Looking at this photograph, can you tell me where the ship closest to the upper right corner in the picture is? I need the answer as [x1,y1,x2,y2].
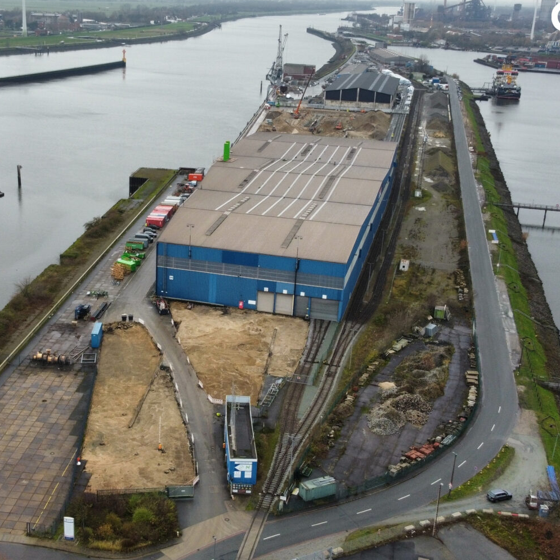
[496,47,522,99]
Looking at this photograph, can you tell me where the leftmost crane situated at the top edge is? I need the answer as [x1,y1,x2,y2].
[264,24,289,101]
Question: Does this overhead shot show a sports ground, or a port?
port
